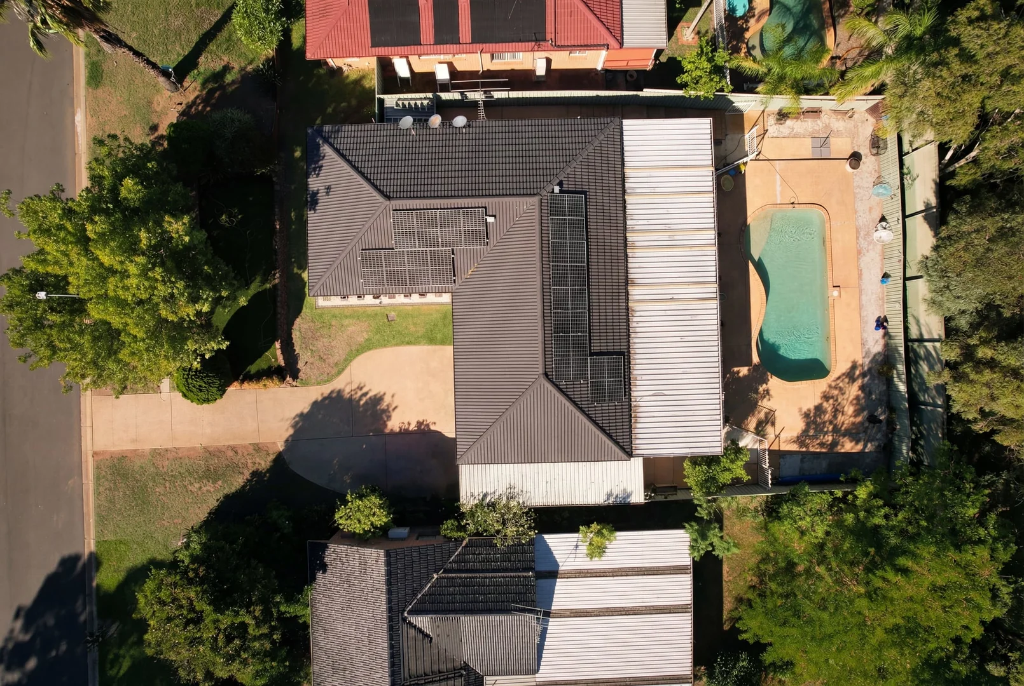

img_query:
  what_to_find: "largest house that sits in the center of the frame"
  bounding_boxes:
[306,115,634,466]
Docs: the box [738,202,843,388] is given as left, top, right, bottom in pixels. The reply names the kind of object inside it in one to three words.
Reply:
swimming pool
